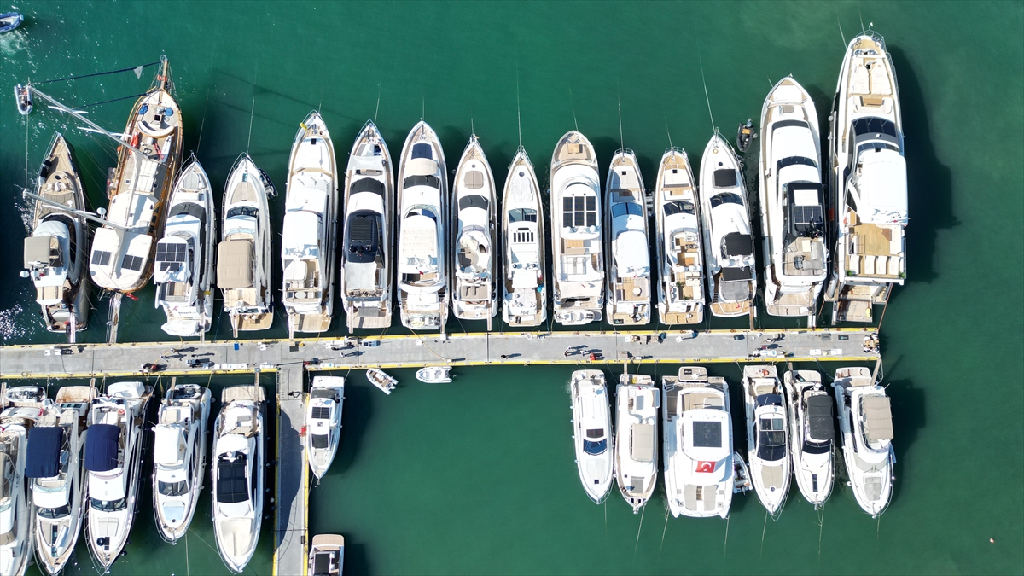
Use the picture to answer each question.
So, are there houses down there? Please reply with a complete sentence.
No, the picture doesn't show any house.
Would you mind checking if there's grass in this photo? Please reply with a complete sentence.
No, no grass is visible.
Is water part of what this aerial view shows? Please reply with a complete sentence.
Yes, the picture does contain water.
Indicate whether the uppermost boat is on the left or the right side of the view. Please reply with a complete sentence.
The uppermost boat sits on the left side.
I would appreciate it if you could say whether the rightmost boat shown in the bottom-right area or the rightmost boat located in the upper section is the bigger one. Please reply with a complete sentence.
The rightmost boat located in the upper section takes up more space than the rightmost boat shown in the bottom-right area does.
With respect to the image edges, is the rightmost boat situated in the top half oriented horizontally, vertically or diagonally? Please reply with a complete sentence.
What the image shows is the rightmost boat situated in the top half lying vertically.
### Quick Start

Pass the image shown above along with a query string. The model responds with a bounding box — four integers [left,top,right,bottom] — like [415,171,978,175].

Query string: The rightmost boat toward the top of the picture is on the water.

[819,7,922,329]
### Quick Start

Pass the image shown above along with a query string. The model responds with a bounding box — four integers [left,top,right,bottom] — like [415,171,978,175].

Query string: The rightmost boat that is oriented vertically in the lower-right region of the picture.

[818,362,898,533]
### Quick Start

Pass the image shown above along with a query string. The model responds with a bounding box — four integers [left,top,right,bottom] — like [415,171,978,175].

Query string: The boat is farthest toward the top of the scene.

[0,8,26,32]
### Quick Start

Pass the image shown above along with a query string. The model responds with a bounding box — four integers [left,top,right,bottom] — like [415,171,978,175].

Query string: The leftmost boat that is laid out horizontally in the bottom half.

[6,385,47,402]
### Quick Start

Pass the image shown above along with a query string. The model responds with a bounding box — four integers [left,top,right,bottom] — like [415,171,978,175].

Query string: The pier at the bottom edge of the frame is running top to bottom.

[273,358,311,576]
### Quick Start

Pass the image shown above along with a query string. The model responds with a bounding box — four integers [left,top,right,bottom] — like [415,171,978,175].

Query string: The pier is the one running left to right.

[0,327,879,378]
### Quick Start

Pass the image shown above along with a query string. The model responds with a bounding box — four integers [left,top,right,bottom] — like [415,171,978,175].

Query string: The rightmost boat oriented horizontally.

[554,310,595,324]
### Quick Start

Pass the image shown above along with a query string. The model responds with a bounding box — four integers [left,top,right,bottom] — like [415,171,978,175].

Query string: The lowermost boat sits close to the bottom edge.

[308,535,348,576]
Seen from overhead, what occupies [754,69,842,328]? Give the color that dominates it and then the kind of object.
white boat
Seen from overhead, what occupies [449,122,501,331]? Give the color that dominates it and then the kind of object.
white boat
